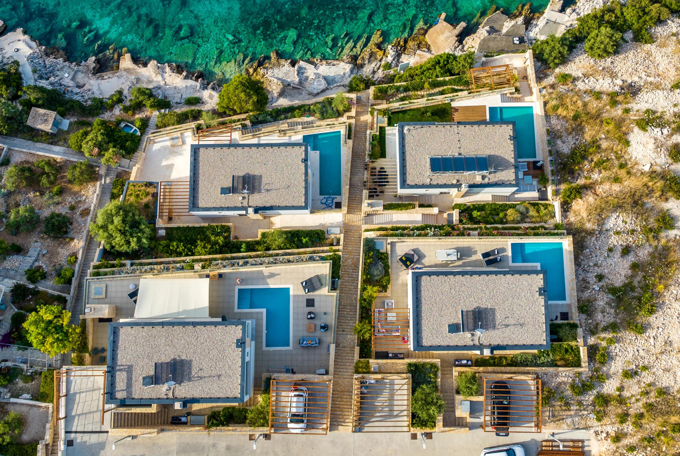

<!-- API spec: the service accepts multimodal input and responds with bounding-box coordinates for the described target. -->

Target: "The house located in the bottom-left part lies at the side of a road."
[106,318,259,410]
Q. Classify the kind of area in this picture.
residential area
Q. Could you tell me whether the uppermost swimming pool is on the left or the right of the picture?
right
